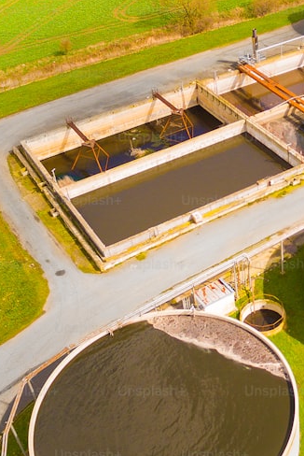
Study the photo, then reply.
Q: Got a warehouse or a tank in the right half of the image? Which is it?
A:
tank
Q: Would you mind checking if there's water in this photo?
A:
Yes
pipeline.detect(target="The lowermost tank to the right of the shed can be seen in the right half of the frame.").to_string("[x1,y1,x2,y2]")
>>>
[239,280,290,339]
